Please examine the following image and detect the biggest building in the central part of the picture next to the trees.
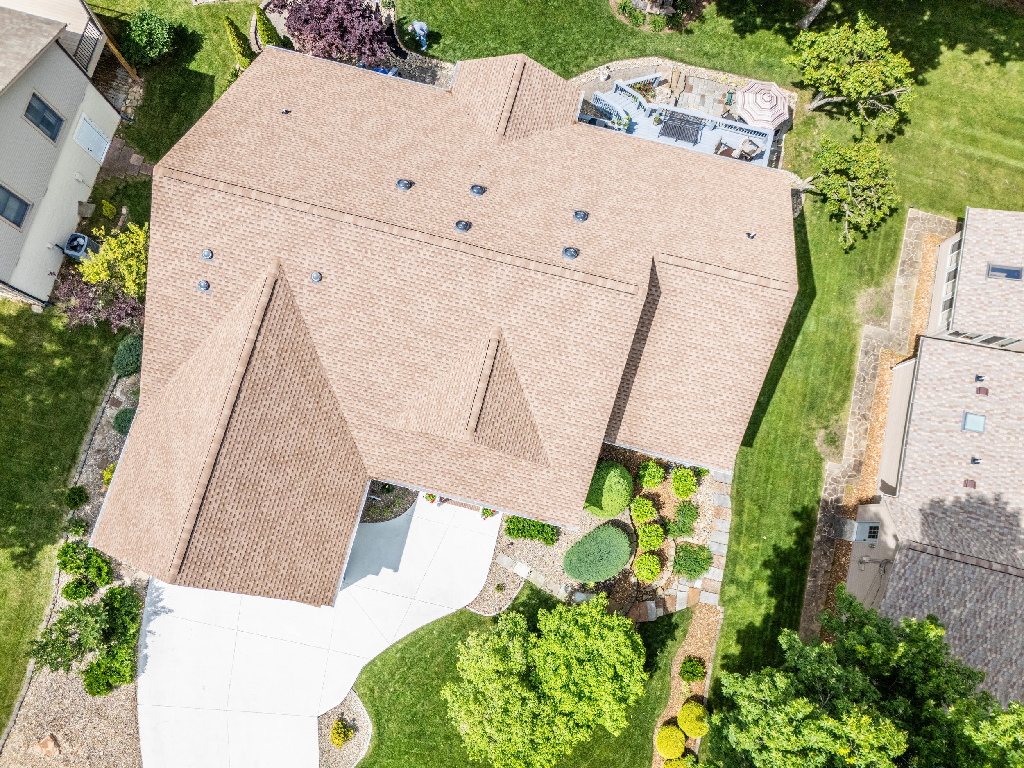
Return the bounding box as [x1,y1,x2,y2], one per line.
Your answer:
[88,42,798,608]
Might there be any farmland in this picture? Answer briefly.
No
